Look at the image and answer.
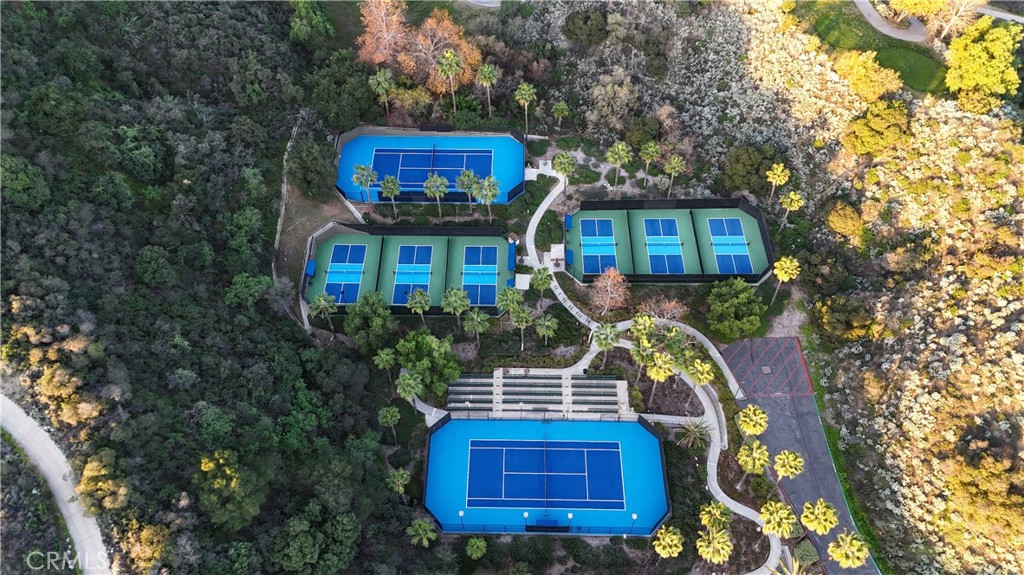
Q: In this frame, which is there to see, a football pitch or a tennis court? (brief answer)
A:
tennis court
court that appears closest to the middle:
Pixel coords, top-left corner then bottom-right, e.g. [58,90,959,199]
[445,236,515,315]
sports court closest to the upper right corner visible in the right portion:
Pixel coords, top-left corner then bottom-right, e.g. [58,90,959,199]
[690,209,769,274]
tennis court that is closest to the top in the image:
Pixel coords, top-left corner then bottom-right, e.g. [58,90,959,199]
[337,135,525,202]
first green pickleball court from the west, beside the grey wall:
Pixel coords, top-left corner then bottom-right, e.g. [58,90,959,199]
[306,235,383,305]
